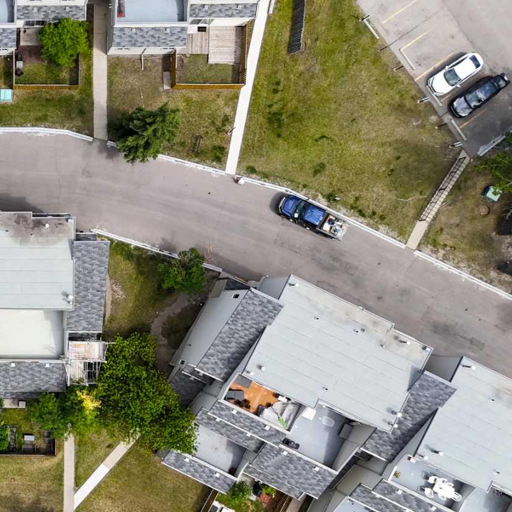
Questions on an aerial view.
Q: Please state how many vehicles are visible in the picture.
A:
3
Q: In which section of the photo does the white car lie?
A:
top right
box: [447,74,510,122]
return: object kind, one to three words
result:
car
